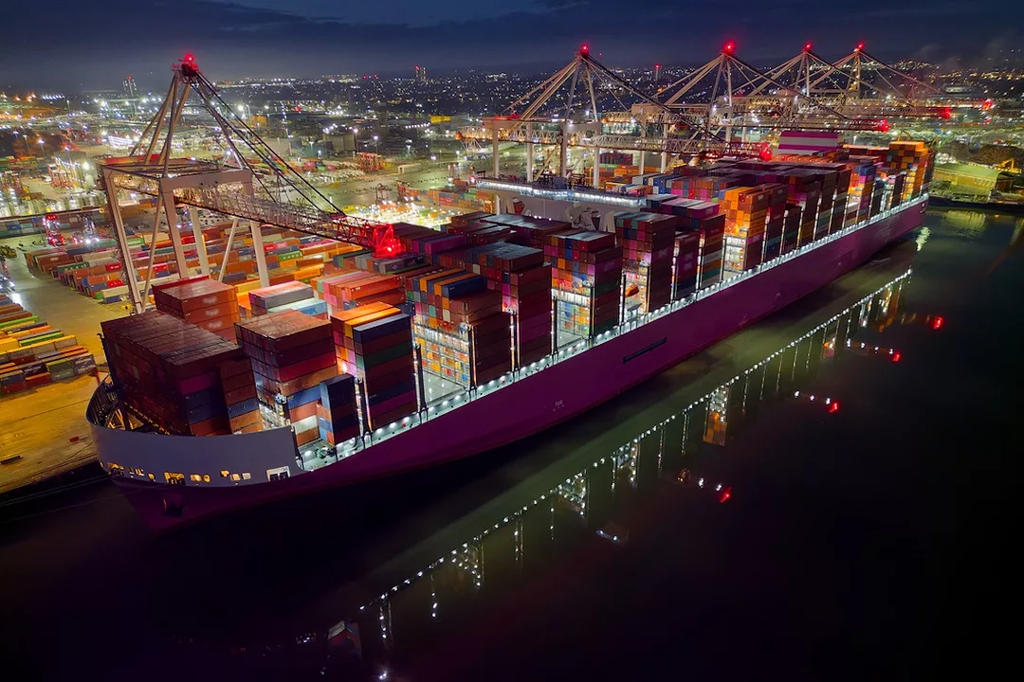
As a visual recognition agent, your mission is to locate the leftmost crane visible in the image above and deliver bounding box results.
[91,55,410,322]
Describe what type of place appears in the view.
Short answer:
port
